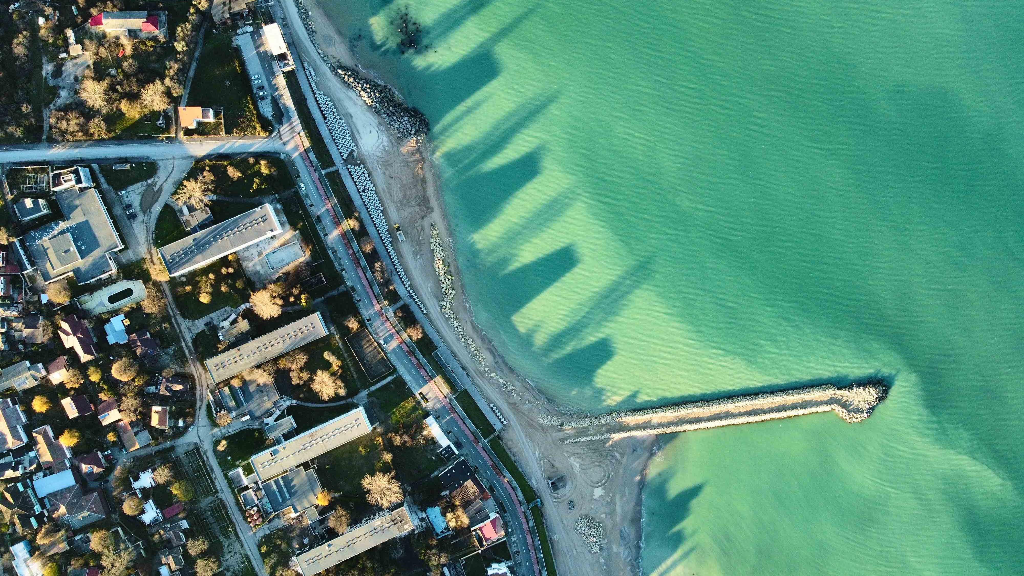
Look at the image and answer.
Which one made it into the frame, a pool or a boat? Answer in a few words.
pool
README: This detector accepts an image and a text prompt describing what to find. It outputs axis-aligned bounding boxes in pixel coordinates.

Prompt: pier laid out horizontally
[557,384,886,439]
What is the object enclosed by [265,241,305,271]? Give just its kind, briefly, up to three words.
swimming pool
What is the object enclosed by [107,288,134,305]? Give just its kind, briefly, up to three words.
swimming pool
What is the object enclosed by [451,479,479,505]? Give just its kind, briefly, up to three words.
house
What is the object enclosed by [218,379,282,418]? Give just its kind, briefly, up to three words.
building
